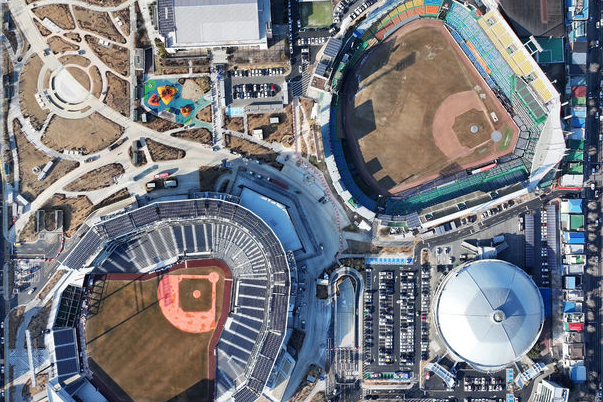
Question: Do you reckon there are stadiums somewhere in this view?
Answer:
Yes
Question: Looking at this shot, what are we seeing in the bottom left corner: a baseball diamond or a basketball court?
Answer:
baseball diamond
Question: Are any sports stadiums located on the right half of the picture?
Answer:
Yes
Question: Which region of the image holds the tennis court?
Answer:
top right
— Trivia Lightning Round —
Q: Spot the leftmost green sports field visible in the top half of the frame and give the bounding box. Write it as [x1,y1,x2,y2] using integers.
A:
[300,0,333,29]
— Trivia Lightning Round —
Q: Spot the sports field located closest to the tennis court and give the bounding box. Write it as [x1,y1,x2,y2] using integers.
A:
[498,0,564,36]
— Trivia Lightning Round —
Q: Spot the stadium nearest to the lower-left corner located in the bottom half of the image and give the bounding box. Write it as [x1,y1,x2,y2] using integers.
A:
[46,189,306,402]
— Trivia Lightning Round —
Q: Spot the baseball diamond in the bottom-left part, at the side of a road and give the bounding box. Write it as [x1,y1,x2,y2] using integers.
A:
[83,258,233,402]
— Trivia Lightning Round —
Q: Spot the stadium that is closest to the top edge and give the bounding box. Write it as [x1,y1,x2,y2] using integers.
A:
[304,0,580,240]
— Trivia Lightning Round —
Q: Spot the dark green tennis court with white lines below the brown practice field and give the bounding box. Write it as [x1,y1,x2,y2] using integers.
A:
[527,36,565,64]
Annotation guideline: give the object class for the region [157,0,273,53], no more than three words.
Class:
building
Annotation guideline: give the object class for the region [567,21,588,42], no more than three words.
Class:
building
